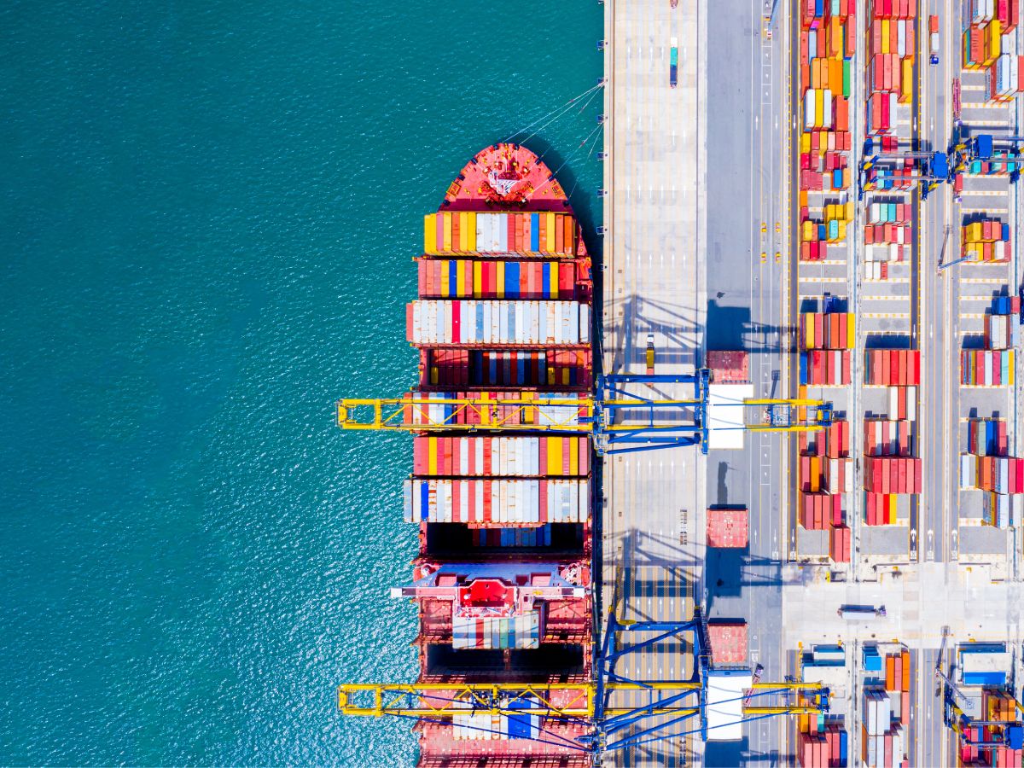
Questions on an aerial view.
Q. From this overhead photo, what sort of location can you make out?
port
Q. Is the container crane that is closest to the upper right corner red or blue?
blue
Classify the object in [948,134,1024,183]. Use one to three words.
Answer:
container crane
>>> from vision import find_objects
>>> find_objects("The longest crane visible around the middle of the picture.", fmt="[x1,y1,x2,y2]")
[334,364,835,464]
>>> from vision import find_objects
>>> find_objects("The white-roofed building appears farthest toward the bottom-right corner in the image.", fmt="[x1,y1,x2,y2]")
[955,645,1010,684]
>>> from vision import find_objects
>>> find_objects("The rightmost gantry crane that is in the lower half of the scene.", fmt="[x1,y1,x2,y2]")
[947,691,1024,749]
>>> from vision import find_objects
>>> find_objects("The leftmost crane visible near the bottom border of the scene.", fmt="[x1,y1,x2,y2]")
[334,598,835,753]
